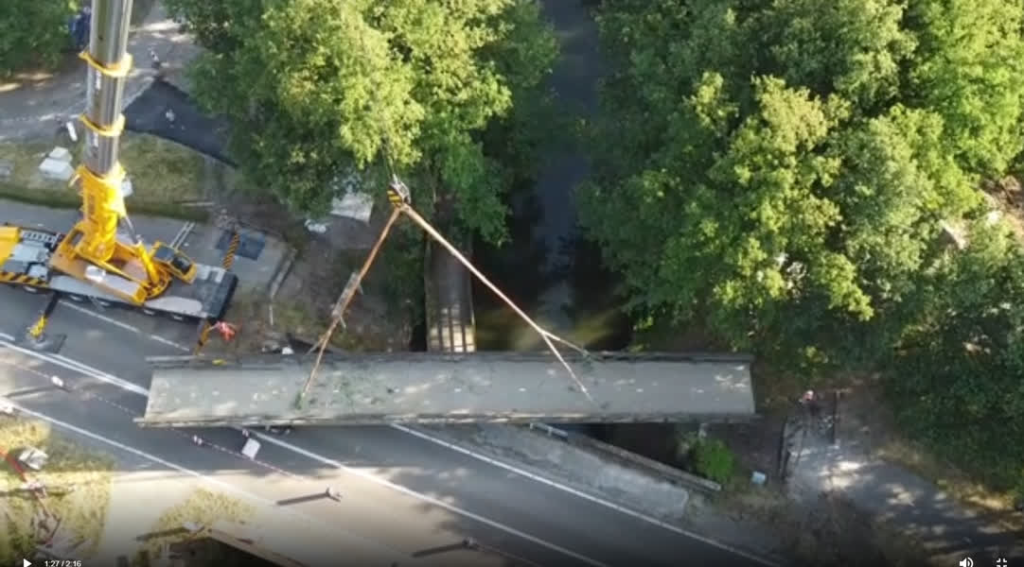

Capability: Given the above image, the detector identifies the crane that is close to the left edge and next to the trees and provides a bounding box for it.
[0,0,264,358]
